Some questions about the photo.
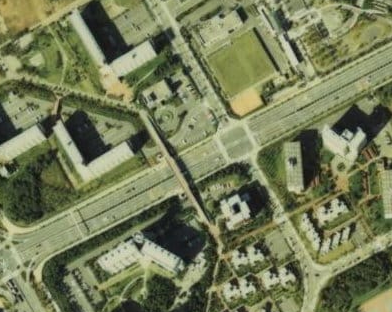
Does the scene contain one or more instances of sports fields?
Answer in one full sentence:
Yes, a sports field is visible in the scene.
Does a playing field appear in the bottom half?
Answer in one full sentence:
No, no playing field can be made out in the bottom half.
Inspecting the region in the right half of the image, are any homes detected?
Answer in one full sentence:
Yes, you'll find a home in the right half of the image.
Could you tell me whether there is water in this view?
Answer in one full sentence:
No, water can't be seen anywhere here.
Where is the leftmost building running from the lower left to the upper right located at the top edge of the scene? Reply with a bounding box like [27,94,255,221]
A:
[198,11,244,46]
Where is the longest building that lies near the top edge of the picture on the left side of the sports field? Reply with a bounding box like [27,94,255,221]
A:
[70,10,157,78]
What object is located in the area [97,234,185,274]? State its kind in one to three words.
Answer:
building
